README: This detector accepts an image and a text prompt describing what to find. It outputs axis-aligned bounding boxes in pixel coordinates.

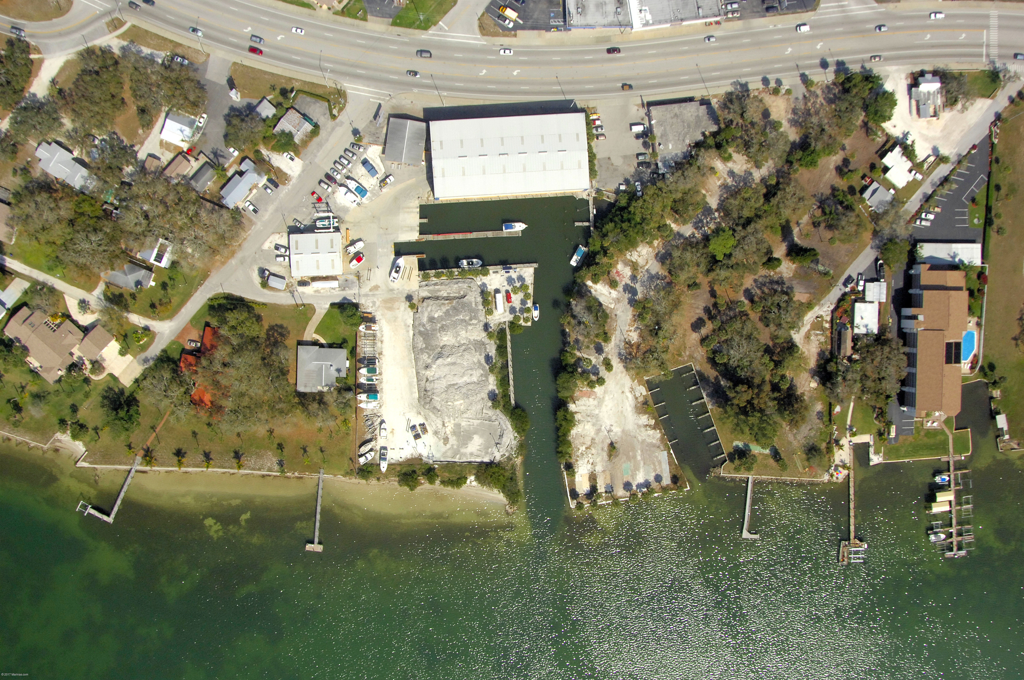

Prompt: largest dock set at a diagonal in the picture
[87,456,142,523]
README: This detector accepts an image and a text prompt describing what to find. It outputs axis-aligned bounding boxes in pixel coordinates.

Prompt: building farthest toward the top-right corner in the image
[909,73,942,119]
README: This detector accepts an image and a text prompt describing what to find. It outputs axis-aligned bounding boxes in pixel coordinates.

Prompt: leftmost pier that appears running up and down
[306,469,324,552]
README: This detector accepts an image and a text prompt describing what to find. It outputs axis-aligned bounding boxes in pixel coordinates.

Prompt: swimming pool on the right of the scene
[965,329,977,362]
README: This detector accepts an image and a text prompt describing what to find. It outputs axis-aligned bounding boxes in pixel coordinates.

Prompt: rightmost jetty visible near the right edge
[926,422,974,557]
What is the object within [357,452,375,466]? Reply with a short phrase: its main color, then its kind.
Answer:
white boat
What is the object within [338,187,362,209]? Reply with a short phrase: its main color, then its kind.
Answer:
white boat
